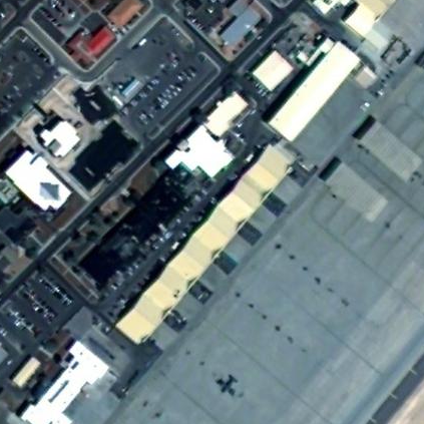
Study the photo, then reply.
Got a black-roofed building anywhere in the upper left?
Yes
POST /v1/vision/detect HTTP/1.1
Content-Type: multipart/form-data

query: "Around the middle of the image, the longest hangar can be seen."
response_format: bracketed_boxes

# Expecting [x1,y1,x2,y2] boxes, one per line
[116,144,290,344]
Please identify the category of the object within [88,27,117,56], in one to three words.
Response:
house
